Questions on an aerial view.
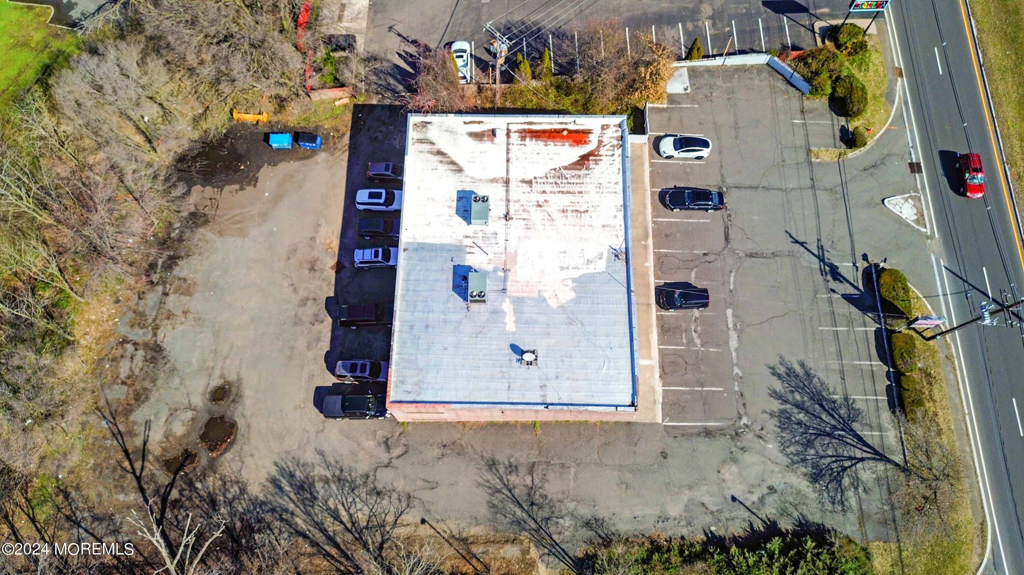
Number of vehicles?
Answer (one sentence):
The count of vehicles comes to 12.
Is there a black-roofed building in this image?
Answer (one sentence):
No, there's no black-roofed building here.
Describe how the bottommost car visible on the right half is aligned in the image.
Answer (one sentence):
I'd say the bottommost car visible on the right half is aligned from left to right in the picture.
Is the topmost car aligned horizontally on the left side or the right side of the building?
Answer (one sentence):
To the right of the building is where the topmost car aligned horizontally appears.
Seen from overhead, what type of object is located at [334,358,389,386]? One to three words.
car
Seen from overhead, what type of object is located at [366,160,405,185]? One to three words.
car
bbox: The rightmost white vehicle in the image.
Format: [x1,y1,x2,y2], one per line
[659,133,712,159]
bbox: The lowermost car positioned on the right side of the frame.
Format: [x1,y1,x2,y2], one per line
[659,285,711,311]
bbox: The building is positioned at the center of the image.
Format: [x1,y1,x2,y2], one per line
[385,115,637,425]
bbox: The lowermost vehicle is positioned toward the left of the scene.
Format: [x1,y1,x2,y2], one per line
[322,394,394,423]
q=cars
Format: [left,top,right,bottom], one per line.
[354,188,402,215]
[955,151,987,200]
[366,160,405,185]
[659,285,711,311]
[334,358,389,386]
[353,246,398,272]
[665,187,724,213]
[449,42,473,86]
[357,216,400,243]
[336,303,394,332]
[659,133,712,159]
